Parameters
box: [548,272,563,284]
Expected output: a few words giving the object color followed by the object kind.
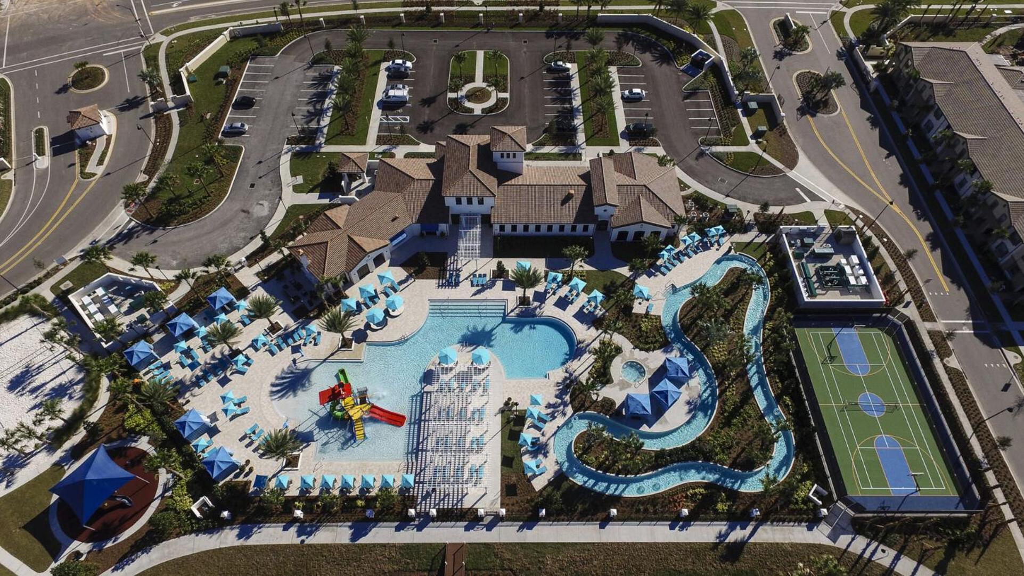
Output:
blue umbrella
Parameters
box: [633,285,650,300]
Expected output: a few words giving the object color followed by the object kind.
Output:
blue umbrella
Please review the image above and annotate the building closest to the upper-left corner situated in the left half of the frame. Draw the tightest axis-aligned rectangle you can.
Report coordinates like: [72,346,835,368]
[59,104,107,141]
